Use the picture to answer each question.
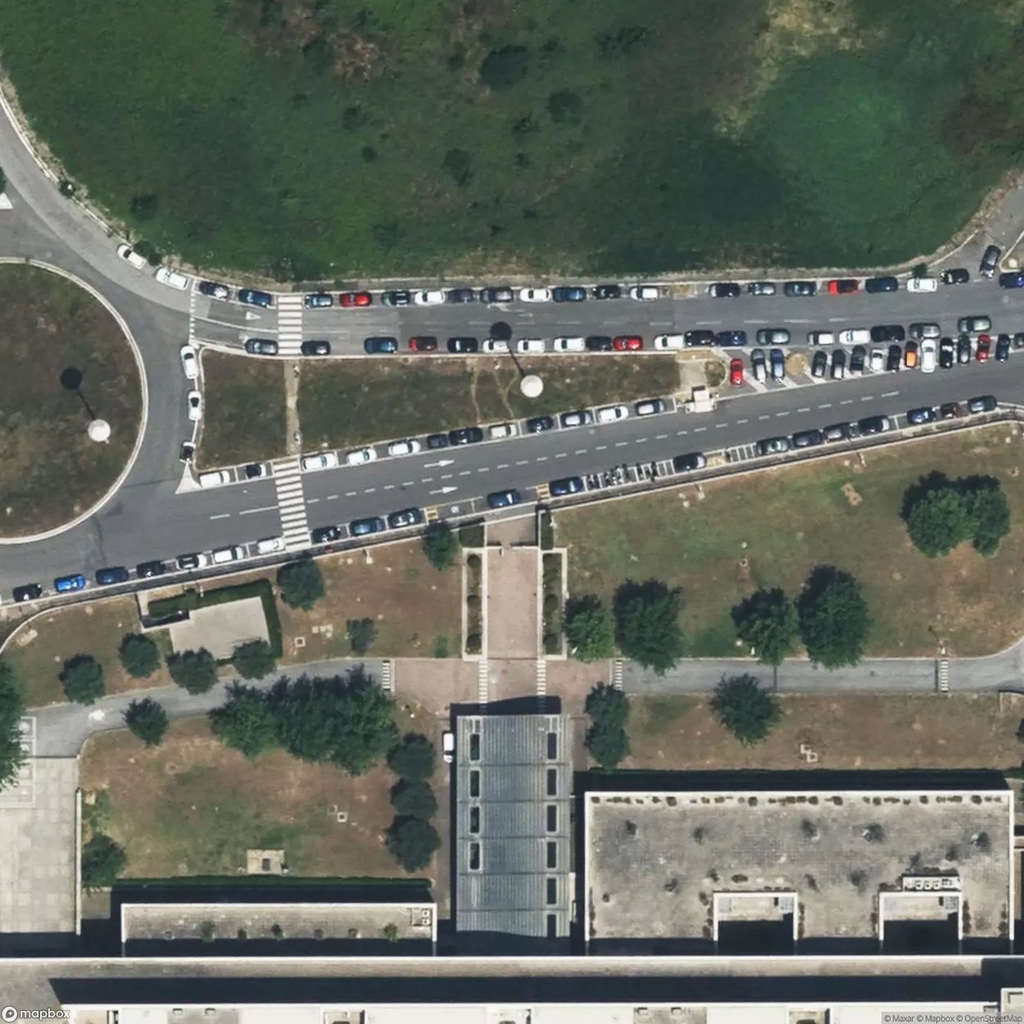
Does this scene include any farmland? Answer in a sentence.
No, there is no farmland in the image.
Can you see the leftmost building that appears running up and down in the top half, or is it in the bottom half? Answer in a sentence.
The leftmost building that appears running up and down is in the bottom half of the image.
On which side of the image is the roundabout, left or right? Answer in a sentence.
The roundabout appears in the left half of the scene.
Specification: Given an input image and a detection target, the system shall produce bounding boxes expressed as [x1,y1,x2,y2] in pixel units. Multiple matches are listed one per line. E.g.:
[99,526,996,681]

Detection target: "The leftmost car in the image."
[13,583,42,600]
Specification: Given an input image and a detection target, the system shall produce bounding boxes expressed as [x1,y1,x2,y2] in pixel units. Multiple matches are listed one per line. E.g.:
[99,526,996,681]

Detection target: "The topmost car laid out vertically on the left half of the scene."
[181,346,198,379]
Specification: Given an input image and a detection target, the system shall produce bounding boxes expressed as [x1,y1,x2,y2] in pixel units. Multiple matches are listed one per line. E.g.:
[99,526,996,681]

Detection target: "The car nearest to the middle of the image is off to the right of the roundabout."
[487,490,521,508]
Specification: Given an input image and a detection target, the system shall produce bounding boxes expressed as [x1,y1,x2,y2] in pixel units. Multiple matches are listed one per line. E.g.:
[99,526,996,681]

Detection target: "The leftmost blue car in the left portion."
[53,574,86,592]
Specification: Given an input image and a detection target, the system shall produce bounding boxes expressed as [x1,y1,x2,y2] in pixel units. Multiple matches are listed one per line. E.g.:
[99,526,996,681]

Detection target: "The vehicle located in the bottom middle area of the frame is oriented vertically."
[441,731,456,762]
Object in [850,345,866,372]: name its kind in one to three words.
car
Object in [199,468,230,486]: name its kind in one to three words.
vehicle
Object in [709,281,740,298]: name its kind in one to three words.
car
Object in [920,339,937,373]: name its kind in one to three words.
vehicle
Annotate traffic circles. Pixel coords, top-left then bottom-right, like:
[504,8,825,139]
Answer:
[0,260,144,542]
